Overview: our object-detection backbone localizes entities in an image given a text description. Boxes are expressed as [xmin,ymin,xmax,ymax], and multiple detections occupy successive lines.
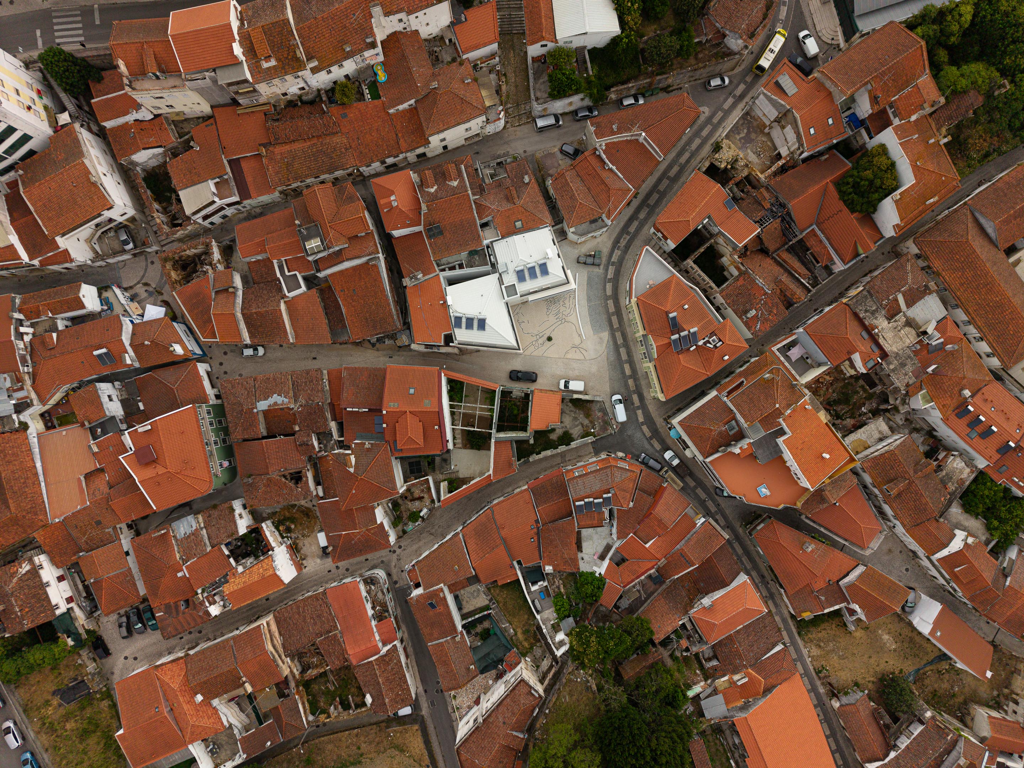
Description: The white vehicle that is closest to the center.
[558,378,585,390]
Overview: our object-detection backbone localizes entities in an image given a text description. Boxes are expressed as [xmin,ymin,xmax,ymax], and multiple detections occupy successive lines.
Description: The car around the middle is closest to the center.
[509,369,538,383]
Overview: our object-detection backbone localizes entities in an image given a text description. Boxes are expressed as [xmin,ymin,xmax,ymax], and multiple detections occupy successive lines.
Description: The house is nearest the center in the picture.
[530,388,562,431]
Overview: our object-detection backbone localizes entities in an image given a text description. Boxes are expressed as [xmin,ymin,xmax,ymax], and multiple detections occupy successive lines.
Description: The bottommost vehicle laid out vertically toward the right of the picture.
[611,394,627,422]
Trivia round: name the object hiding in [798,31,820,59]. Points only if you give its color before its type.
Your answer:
white vehicle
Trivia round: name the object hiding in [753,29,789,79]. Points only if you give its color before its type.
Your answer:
white vehicle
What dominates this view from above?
buildings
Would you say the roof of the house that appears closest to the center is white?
No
